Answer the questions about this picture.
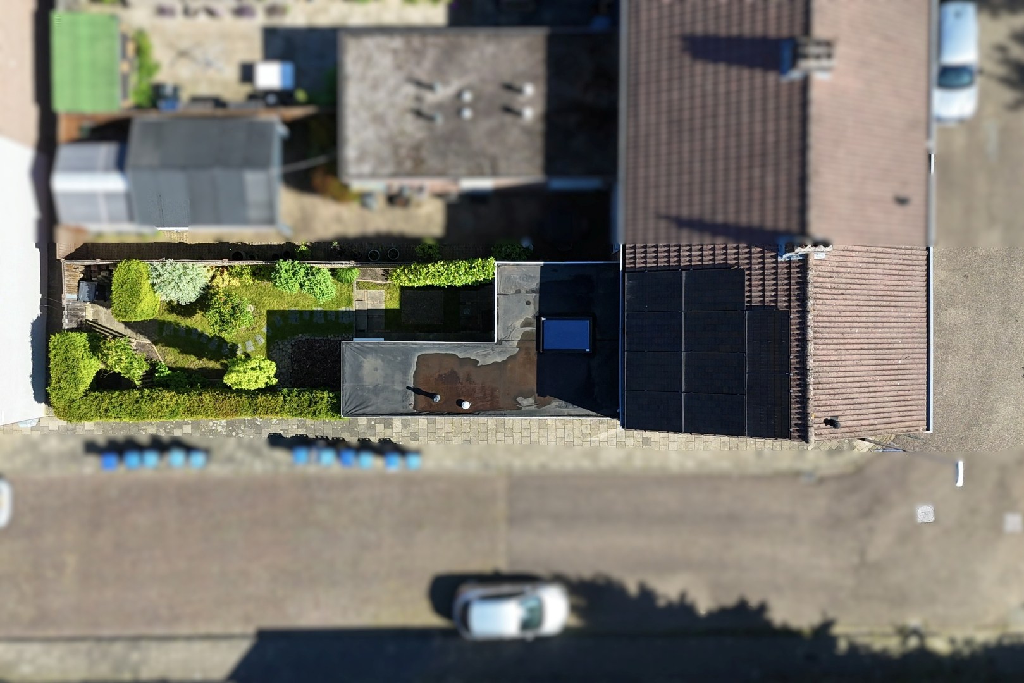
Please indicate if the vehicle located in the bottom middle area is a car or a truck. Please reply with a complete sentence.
The vehicle located in the bottom middle area can be classified as a car.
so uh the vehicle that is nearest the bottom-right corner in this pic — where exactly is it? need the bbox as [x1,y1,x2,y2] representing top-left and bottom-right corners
[454,579,570,642]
